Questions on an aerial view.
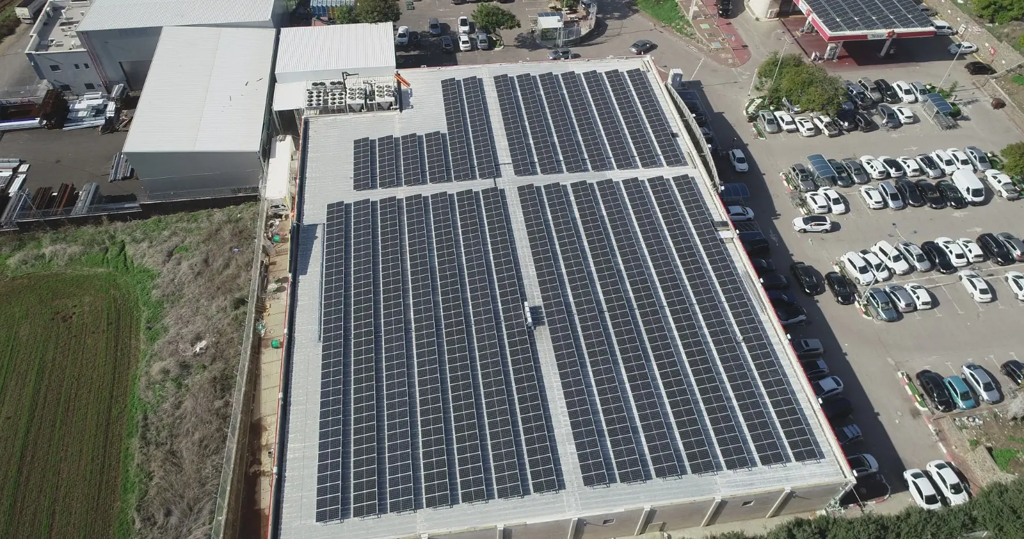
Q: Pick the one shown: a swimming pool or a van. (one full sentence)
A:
It is a van that can be seen here.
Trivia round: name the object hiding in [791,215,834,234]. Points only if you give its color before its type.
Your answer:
white car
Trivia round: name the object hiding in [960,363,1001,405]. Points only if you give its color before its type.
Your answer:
gray car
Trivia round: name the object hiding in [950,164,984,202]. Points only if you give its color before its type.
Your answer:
white van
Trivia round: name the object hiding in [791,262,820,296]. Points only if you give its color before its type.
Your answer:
black car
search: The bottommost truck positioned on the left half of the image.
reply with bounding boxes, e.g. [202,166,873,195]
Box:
[265,135,294,225]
